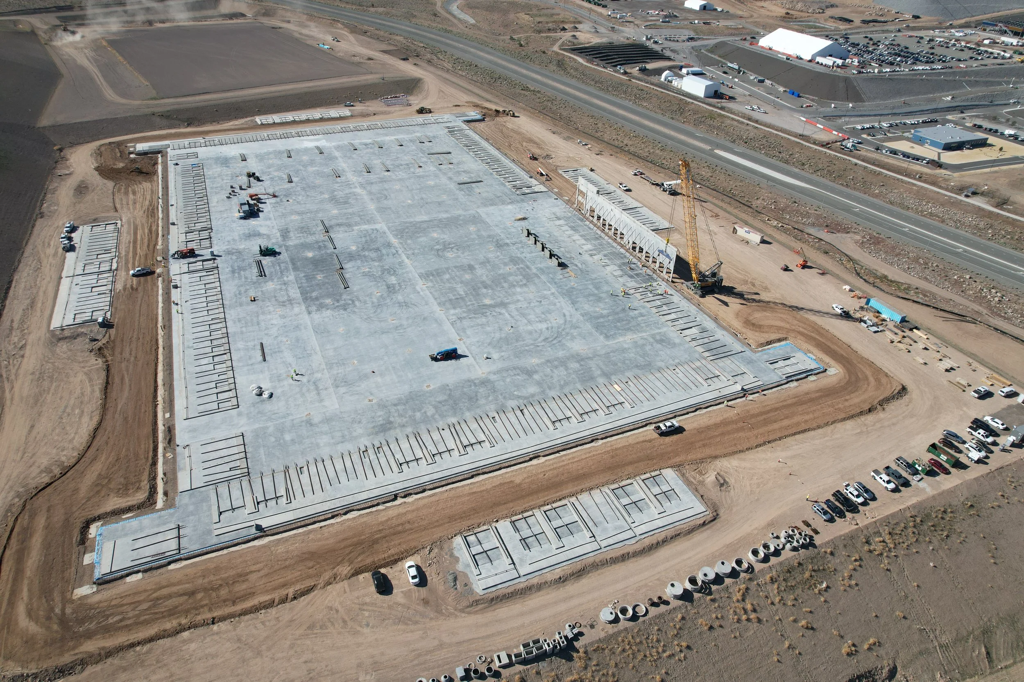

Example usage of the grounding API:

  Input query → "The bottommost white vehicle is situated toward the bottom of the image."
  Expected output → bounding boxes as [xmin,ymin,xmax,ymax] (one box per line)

[405,560,421,587]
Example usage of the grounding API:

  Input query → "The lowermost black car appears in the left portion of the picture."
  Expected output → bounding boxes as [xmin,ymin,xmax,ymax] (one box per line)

[370,572,388,596]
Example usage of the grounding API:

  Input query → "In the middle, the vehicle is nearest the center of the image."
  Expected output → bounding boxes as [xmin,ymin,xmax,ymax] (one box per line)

[428,349,458,364]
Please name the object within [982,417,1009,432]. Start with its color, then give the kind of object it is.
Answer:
white car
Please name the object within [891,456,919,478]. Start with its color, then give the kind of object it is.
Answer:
gray car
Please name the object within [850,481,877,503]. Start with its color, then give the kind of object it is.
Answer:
gray car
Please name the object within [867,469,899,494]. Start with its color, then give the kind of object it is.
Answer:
white truck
